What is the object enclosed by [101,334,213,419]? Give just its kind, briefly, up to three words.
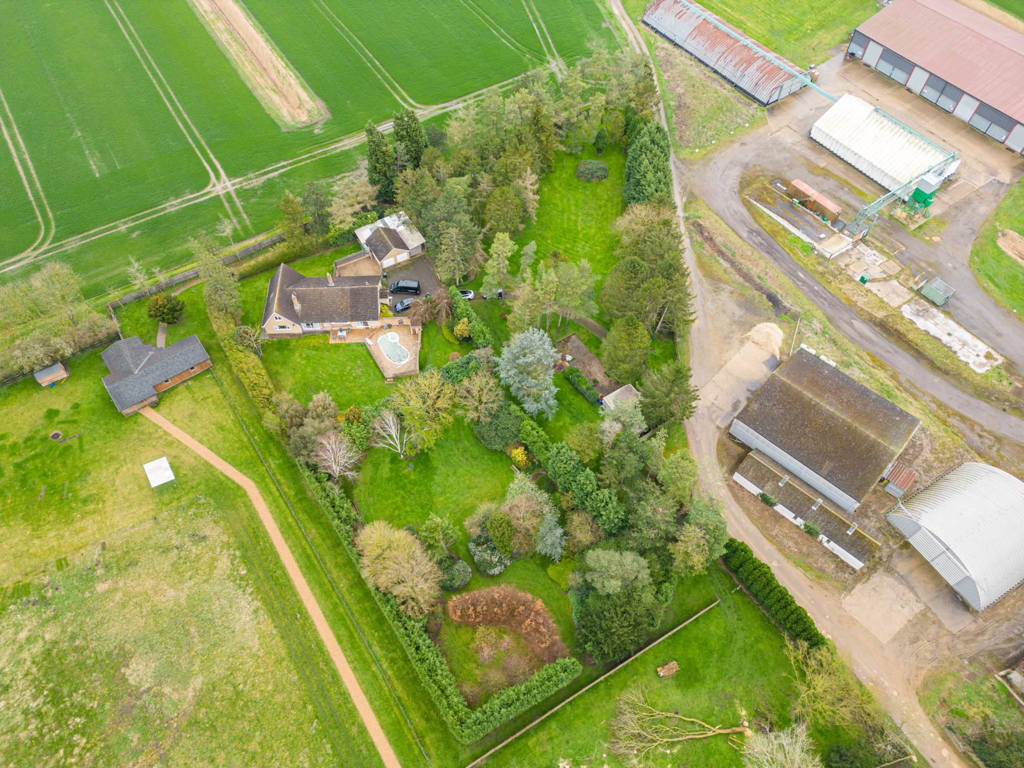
building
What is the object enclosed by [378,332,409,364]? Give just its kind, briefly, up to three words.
swimming pool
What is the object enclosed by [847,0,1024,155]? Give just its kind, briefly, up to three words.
shed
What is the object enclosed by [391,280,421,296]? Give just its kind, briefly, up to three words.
vehicle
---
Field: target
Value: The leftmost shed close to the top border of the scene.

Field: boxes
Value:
[642,0,817,105]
